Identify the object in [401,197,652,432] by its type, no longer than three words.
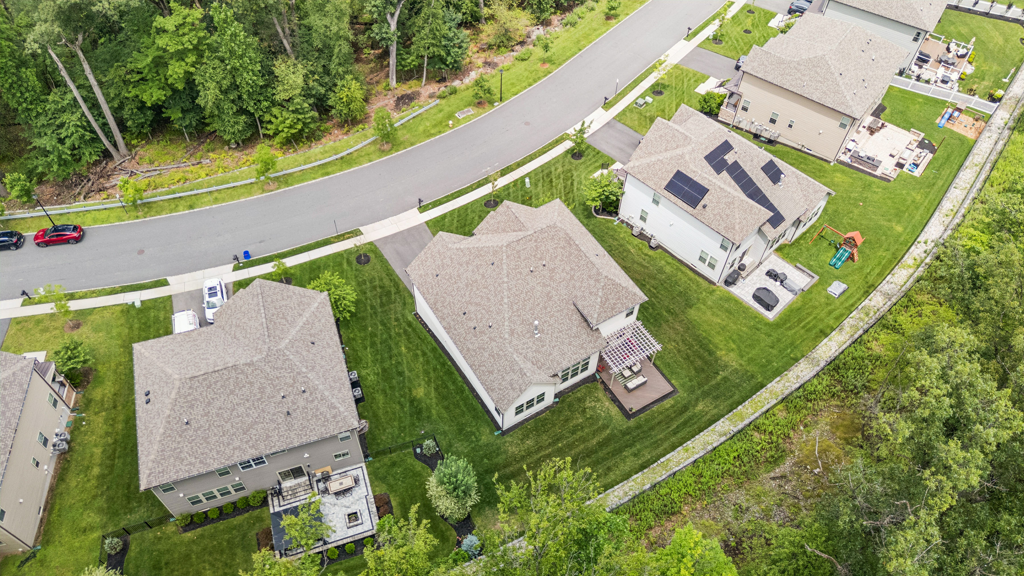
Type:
house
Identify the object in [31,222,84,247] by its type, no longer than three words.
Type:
car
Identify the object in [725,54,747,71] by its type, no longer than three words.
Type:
car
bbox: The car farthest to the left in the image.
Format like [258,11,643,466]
[0,228,25,250]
